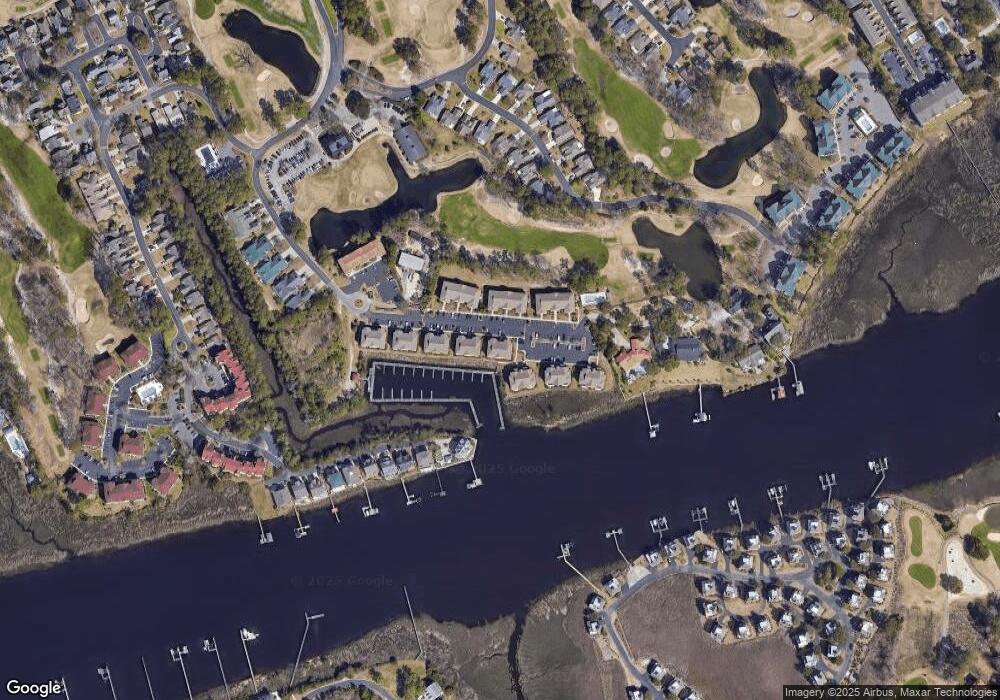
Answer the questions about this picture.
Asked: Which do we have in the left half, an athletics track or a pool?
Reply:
pool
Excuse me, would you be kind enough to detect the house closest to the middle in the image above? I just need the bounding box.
[485,336,511,358]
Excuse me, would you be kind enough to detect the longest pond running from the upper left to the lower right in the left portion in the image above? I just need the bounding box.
[224,9,320,97]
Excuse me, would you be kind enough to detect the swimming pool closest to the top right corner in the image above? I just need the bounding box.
[934,16,950,36]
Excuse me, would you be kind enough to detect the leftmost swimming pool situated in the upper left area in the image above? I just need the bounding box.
[195,142,220,171]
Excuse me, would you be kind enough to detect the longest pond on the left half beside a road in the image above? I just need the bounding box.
[309,144,482,250]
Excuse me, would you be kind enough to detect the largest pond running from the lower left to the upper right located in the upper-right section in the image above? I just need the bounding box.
[693,66,786,188]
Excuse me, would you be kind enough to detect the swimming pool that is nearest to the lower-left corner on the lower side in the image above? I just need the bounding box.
[4,430,28,459]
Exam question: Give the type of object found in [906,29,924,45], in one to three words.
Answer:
swimming pool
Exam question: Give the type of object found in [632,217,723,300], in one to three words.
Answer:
pond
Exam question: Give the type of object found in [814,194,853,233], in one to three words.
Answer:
building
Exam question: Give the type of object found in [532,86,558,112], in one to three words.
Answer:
house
